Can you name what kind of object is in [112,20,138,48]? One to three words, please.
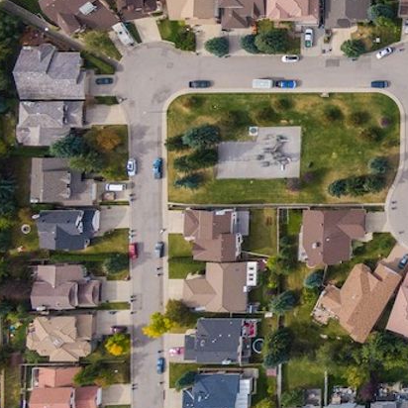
camper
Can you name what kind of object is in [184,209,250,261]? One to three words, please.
house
